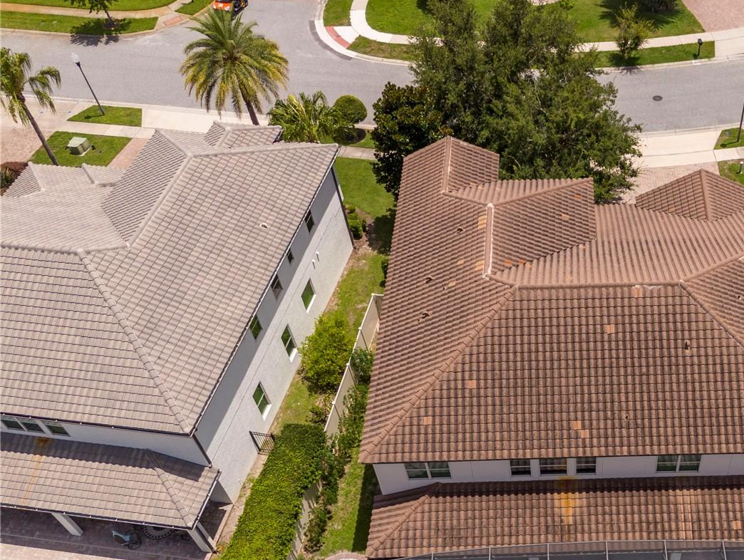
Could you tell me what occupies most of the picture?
buildings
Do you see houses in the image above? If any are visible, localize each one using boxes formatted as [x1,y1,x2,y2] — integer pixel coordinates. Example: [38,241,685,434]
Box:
[0,118,345,556]
[354,134,744,560]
